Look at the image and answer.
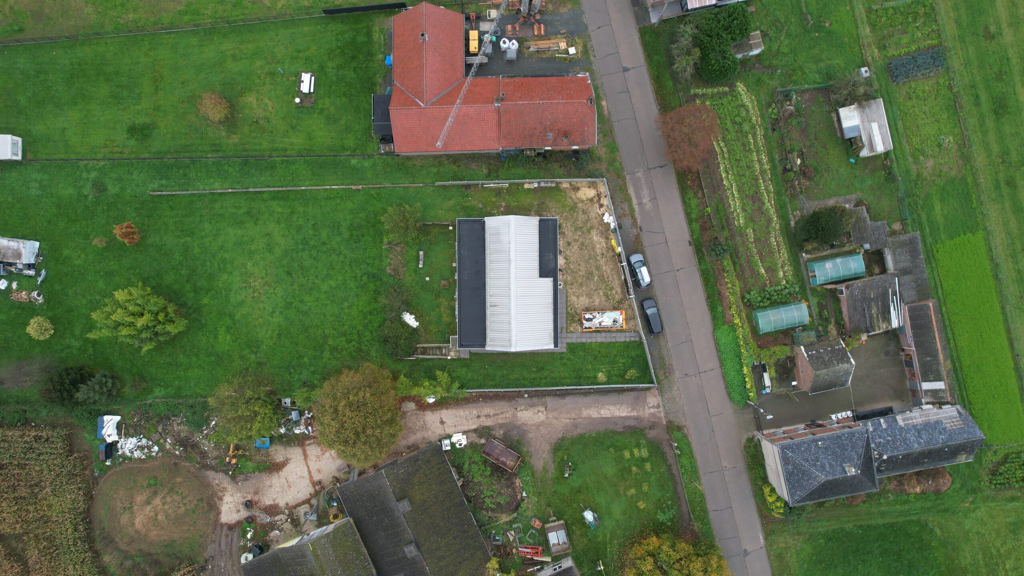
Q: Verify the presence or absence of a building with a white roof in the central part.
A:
Yes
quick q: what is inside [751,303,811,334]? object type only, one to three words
greenhouse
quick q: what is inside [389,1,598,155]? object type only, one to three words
house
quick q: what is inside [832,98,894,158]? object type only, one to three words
shed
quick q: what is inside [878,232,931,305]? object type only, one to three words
shed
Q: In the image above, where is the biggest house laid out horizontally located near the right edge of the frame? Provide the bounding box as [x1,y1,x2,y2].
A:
[759,401,986,507]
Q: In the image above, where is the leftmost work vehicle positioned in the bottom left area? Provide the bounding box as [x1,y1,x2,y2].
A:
[224,444,249,467]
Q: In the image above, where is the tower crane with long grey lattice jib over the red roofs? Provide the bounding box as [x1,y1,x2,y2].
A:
[436,0,542,147]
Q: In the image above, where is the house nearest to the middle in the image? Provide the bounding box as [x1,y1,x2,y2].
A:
[457,215,558,352]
